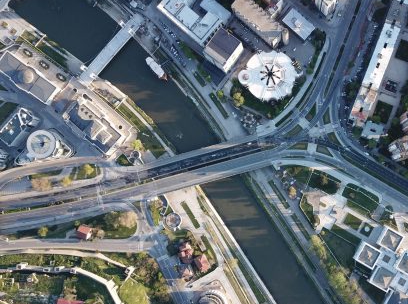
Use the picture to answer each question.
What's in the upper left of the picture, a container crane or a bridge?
bridge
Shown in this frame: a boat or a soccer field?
boat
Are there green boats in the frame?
No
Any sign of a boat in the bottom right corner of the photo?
No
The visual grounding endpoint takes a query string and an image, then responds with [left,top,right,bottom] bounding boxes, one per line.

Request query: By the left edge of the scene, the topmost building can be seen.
[0,52,62,106]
